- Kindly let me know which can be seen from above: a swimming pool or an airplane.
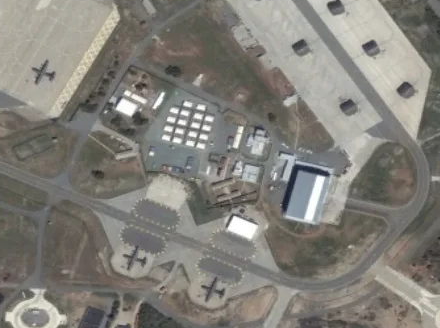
airplane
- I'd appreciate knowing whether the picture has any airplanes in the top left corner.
Yes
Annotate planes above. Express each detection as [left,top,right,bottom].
[124,244,145,269]
[202,276,223,301]
[33,59,53,84]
